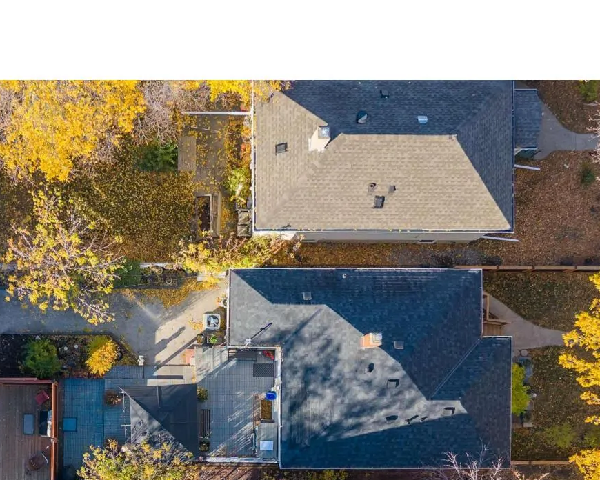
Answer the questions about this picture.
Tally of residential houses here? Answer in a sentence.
I count 2 residential houses.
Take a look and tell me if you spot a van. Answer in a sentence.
No, this view has no van in it.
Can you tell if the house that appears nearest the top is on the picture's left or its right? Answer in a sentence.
The house that appears nearest the top appears in the right half of the scene.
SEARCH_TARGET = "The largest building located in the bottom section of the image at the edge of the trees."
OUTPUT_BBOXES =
[227,268,513,472]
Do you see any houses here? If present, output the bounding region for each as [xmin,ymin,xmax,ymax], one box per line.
[227,268,513,472]
[252,76,540,244]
